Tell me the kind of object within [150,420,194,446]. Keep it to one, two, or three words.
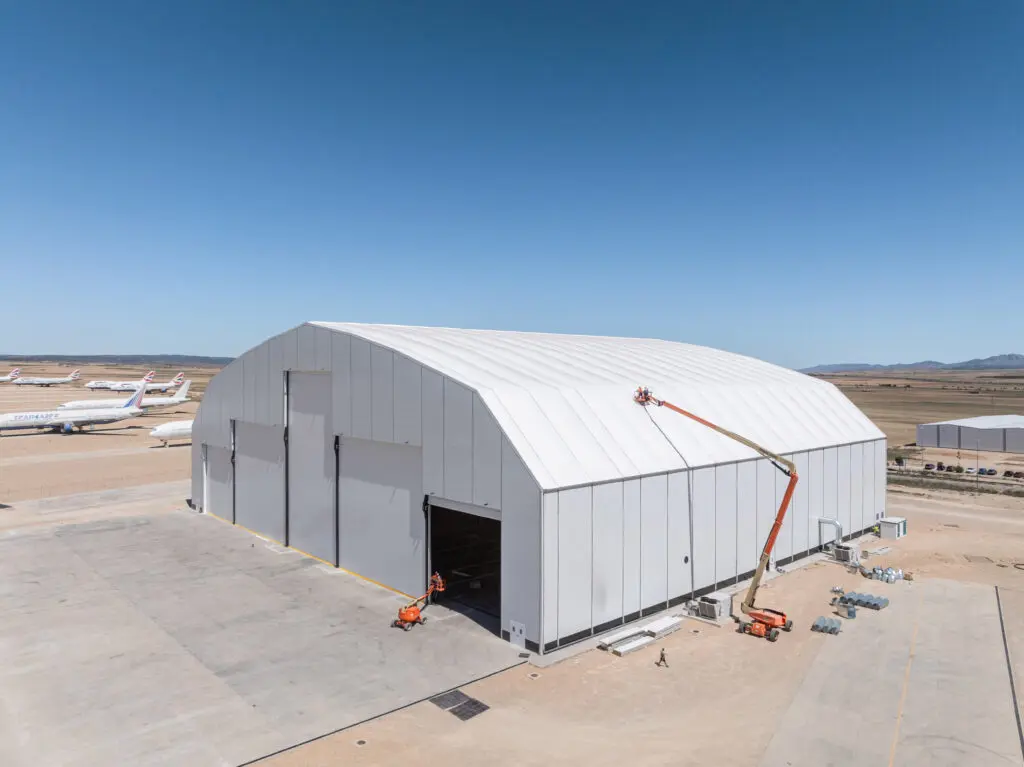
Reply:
airplane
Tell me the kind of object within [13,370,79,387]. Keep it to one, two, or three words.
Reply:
airplane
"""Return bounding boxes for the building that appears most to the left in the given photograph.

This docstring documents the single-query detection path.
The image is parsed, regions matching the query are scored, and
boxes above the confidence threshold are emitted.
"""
[191,320,887,653]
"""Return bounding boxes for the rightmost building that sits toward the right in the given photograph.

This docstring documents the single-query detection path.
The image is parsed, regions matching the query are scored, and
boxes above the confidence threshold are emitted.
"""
[915,414,1024,455]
